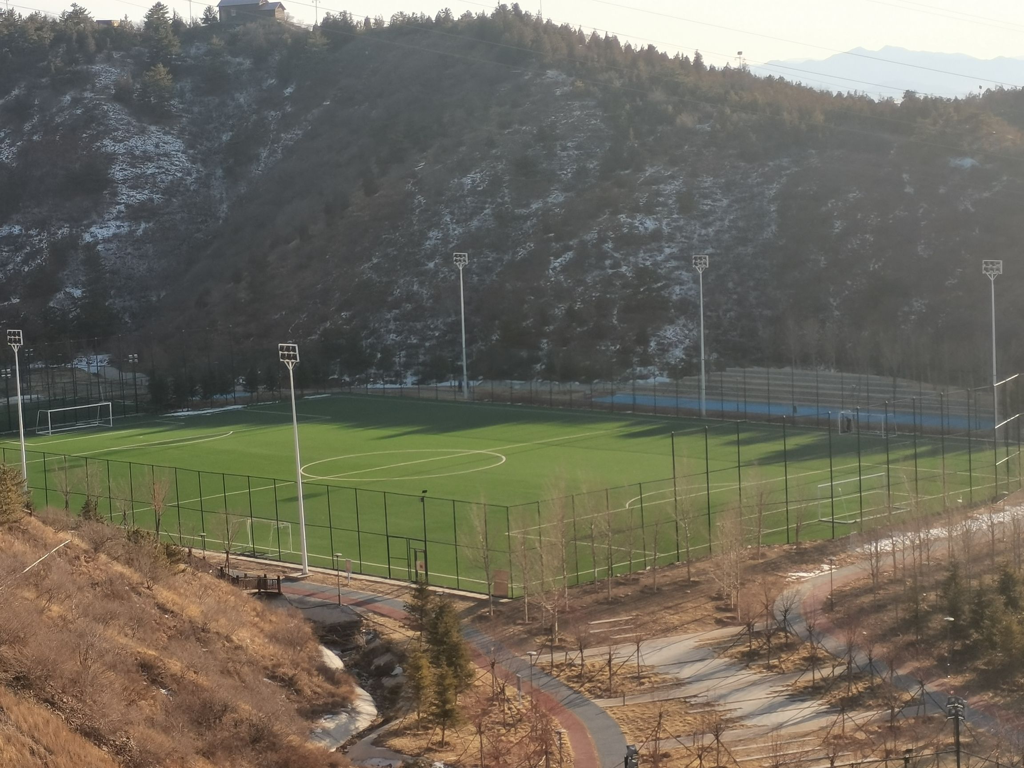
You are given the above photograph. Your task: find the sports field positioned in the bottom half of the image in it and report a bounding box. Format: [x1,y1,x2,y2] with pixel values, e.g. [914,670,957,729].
[0,392,1024,597]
